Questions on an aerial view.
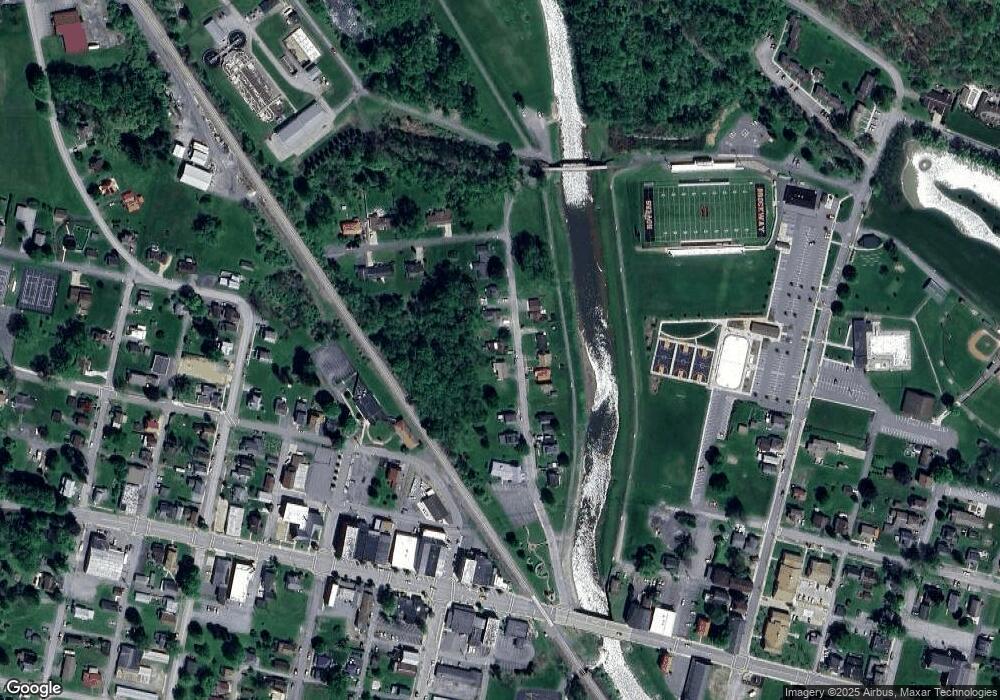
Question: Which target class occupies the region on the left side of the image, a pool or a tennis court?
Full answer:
You can see a tennis court on the left side of the image.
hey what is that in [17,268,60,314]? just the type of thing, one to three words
tennis court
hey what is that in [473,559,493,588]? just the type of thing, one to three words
building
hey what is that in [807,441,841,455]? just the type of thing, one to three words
house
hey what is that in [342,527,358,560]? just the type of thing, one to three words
building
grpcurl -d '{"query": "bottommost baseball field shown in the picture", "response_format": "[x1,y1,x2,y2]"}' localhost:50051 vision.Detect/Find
[941,301,1000,396]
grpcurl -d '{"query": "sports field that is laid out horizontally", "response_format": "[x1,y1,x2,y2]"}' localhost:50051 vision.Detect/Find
[631,176,778,248]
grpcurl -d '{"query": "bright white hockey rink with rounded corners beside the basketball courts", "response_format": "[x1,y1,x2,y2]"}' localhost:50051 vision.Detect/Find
[715,333,749,389]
